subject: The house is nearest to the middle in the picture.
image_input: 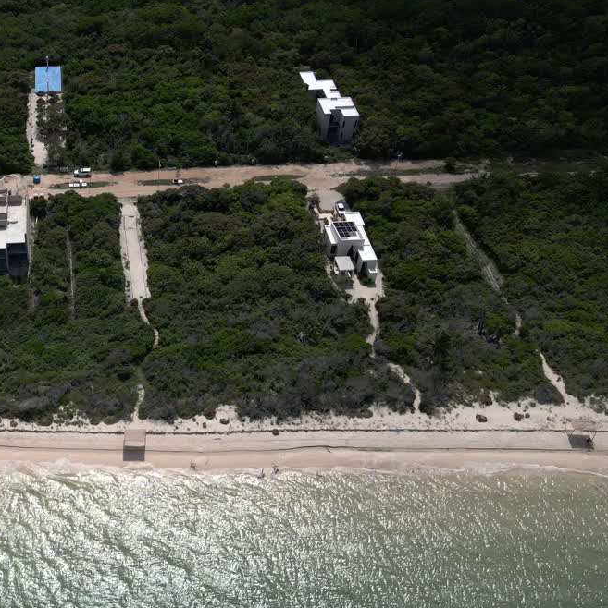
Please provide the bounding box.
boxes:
[319,212,378,282]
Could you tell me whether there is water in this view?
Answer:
Yes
